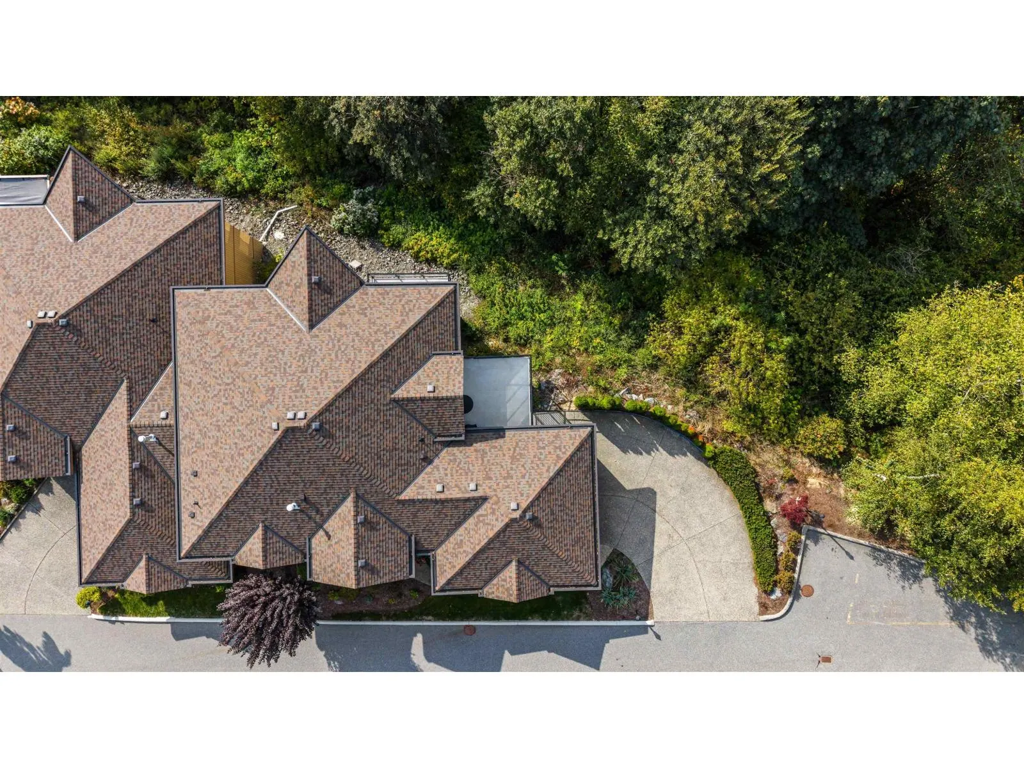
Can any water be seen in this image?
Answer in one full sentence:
No, the picture contains no water.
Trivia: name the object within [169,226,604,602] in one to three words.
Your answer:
house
